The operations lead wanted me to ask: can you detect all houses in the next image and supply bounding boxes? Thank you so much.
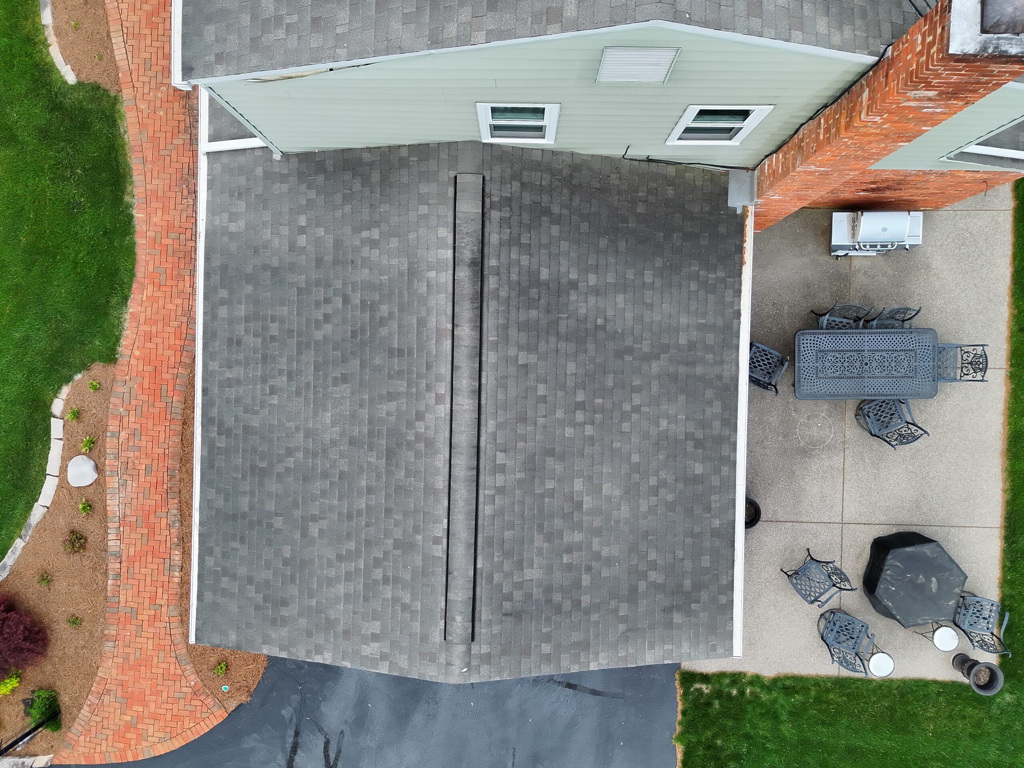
[171,0,1024,686]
